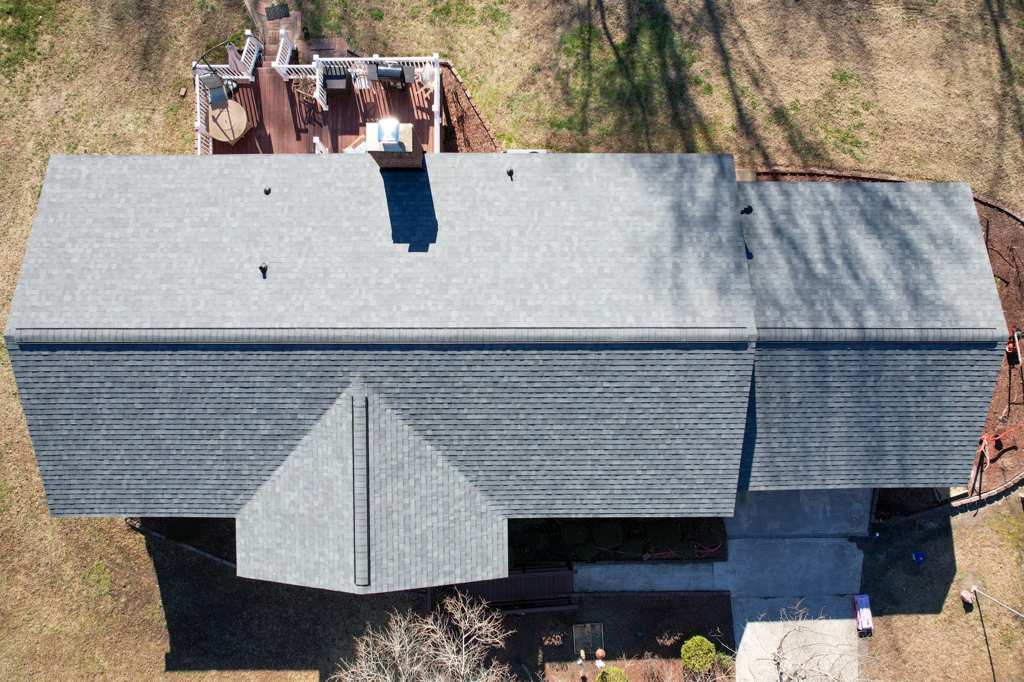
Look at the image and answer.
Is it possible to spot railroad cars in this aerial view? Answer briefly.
No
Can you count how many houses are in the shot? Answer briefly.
1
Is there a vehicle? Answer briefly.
No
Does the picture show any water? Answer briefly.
No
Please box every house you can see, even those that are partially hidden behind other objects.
[4,121,1008,595]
